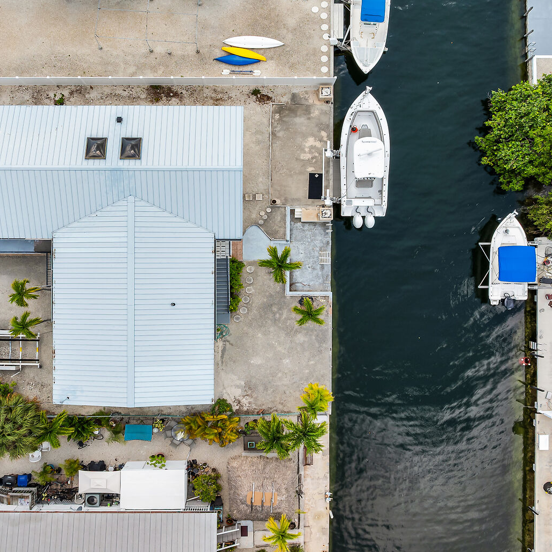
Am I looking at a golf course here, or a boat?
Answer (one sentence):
Of the two, only a boat appears.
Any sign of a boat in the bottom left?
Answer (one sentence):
No, no boat can be made out in the bottom left.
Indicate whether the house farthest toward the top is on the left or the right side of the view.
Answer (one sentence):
The house farthest toward the top appears in the left half of the scene.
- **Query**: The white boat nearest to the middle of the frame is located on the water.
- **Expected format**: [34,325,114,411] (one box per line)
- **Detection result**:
[340,84,389,231]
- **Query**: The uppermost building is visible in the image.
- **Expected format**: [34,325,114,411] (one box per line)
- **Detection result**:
[0,106,243,408]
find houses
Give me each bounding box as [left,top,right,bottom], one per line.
[0,106,243,408]
[0,457,241,552]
